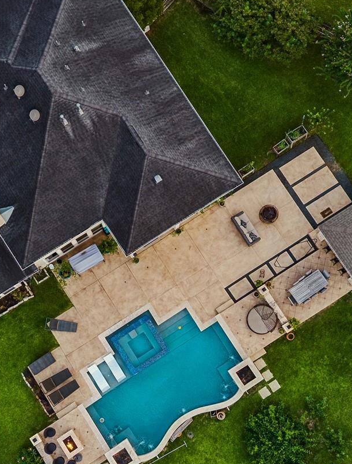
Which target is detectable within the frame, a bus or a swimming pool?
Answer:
swimming pool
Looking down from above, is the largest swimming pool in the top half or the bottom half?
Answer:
bottom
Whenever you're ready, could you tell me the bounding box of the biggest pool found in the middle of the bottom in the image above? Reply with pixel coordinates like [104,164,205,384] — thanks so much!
[78,301,248,461]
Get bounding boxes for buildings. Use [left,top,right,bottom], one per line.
[0,0,243,303]
[313,204,352,288]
